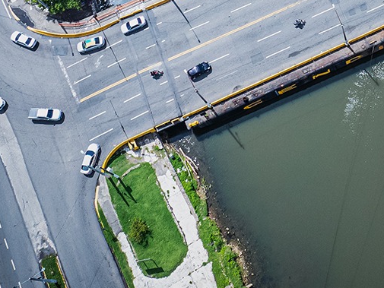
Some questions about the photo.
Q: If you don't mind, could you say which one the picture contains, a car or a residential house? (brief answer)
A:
car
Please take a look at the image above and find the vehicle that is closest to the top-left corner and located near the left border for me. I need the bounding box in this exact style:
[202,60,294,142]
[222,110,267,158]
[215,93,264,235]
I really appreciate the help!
[9,30,39,51]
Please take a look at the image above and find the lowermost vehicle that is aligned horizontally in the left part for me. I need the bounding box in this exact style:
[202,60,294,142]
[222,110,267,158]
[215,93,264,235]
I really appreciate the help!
[23,107,64,123]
